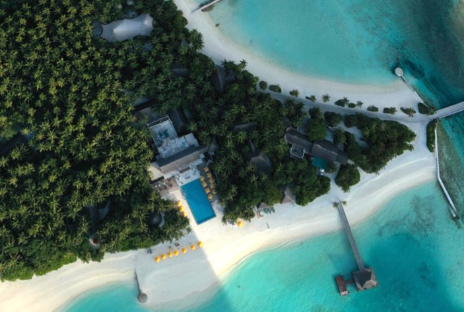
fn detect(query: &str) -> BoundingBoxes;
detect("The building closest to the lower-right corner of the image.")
[349,266,379,294]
